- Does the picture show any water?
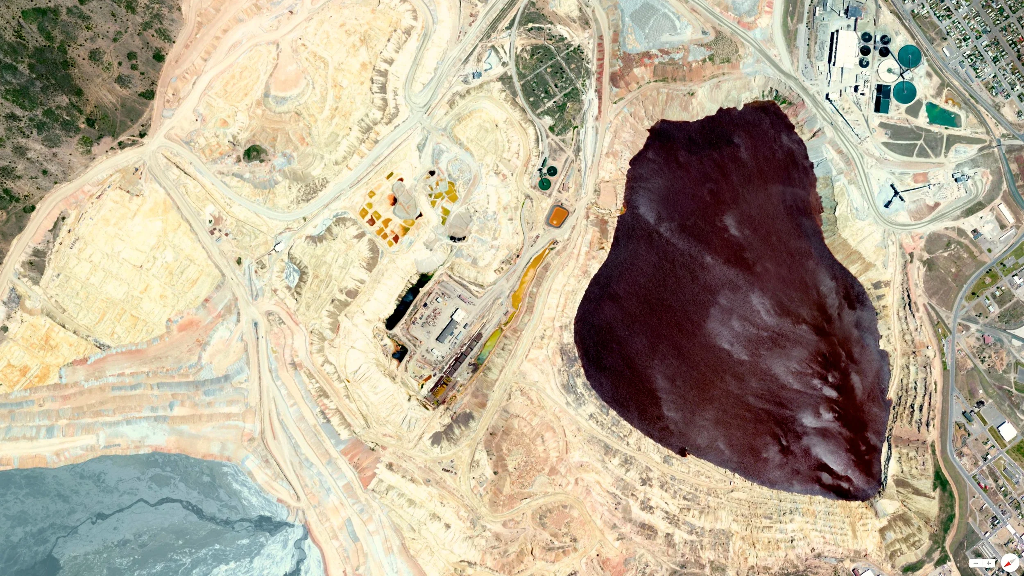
Yes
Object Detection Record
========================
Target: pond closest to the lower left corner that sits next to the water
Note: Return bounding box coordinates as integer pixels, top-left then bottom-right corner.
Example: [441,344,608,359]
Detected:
[0,451,325,576]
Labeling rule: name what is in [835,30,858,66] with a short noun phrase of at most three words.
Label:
building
